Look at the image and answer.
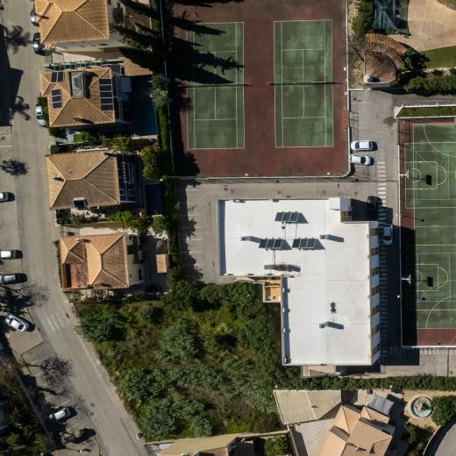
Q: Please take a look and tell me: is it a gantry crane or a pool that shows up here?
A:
pool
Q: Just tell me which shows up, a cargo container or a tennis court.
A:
tennis court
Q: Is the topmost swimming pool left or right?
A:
left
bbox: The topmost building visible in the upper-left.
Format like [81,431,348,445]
[35,0,152,76]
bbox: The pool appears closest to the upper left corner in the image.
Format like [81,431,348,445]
[136,98,159,137]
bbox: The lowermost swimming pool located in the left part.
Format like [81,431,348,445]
[143,182,164,217]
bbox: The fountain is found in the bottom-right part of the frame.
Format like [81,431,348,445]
[410,395,433,420]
